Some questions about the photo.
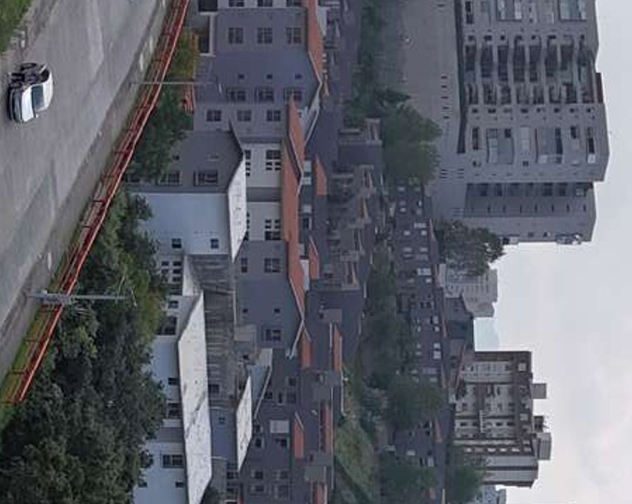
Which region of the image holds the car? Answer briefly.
top left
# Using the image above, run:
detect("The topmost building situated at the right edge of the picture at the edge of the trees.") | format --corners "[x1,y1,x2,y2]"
[432,0,611,246]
